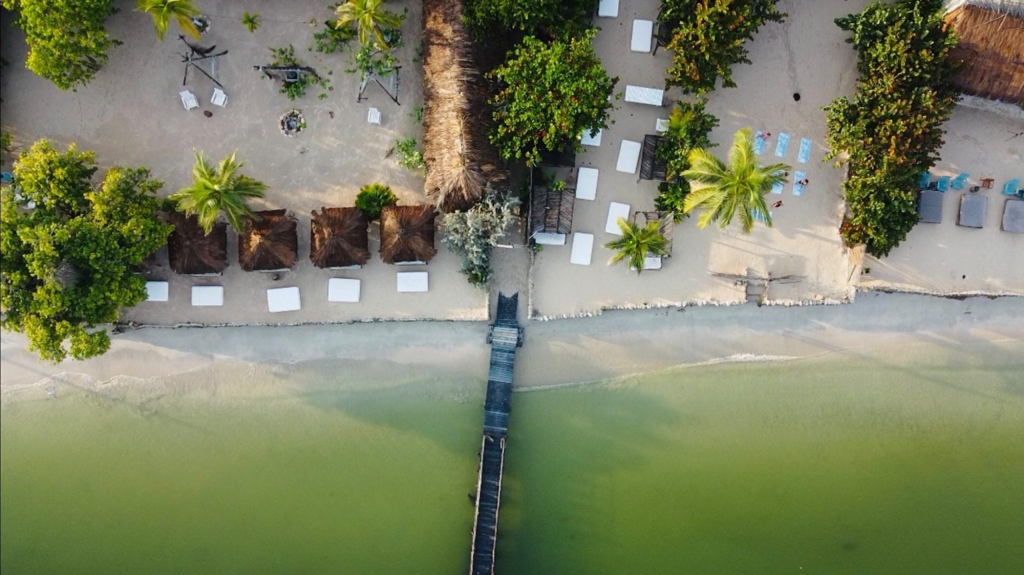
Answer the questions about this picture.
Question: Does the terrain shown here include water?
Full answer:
Yes, water can be seen from above here.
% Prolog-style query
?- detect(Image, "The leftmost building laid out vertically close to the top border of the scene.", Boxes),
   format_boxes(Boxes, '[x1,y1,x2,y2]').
[419,0,505,216]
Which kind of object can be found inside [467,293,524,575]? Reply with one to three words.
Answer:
pier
